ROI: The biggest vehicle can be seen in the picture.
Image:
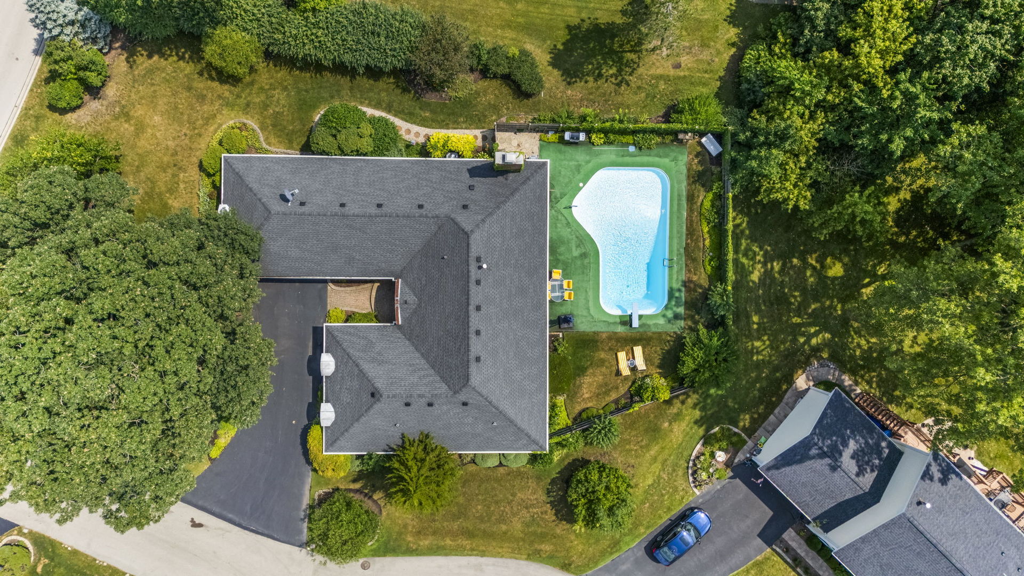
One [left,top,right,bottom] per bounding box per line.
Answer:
[653,508,711,566]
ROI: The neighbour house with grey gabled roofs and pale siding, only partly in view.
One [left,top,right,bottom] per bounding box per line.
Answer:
[749,387,1024,576]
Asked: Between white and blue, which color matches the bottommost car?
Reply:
blue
